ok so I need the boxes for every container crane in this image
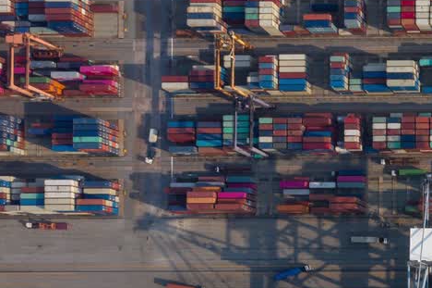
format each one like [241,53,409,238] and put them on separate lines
[213,29,254,102]
[3,30,58,103]
[230,91,273,162]
[407,171,432,288]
